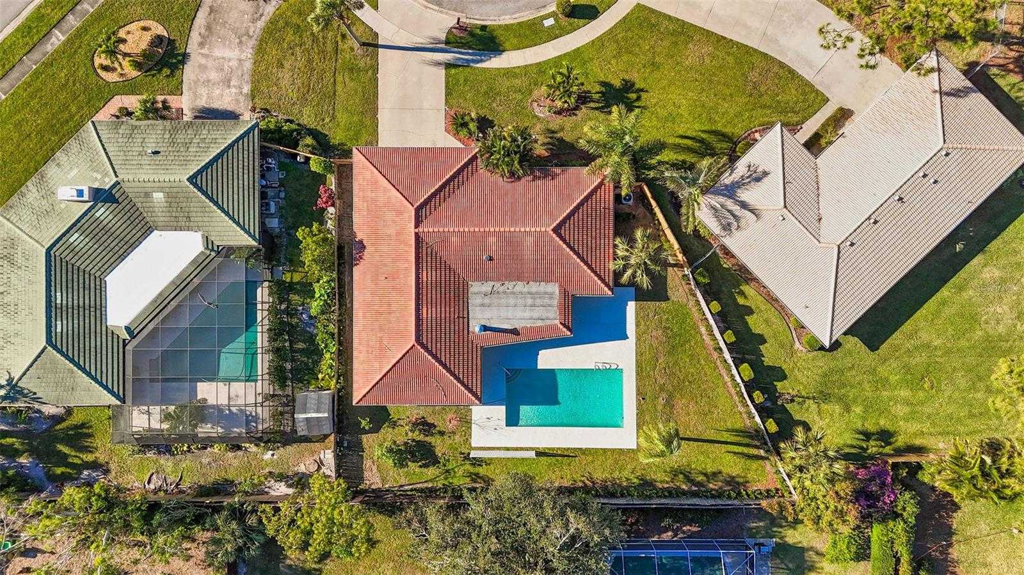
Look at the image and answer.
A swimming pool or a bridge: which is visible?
swimming pool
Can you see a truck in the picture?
No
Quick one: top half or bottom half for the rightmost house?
top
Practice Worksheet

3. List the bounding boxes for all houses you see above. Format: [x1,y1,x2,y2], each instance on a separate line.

[0,118,264,406]
[352,145,616,407]
[697,49,1024,349]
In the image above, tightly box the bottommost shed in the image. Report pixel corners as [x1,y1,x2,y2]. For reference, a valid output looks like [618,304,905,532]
[289,391,334,436]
